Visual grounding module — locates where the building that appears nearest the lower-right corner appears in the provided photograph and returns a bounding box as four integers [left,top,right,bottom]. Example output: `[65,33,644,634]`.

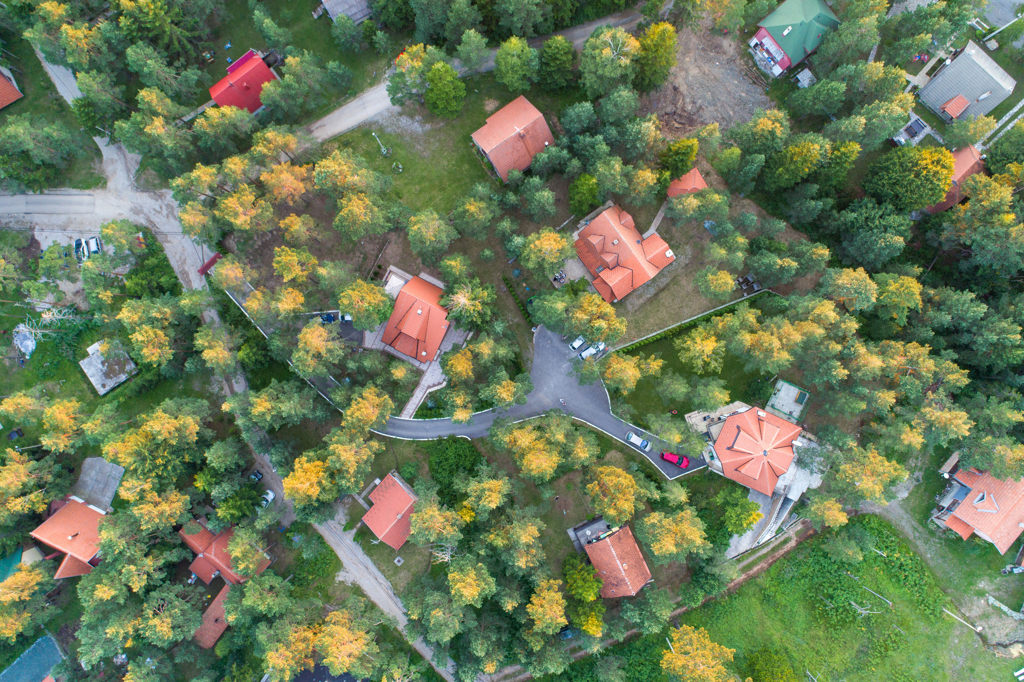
[929,447,1024,555]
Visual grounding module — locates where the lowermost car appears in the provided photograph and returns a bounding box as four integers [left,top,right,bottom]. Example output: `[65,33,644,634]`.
[552,625,582,647]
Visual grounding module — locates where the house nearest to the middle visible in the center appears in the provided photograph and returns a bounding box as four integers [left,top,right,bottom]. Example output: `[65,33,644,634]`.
[382,276,453,363]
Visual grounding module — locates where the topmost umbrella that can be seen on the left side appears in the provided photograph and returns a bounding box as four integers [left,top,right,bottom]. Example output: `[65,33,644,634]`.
[385,275,405,299]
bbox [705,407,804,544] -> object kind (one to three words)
house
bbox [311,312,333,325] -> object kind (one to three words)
vehicle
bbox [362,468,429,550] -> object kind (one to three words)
house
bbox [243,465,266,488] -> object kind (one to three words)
car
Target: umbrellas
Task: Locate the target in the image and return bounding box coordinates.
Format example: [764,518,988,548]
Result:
[24,547,44,562]
[385,275,405,299]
